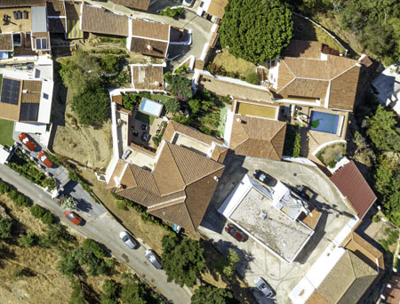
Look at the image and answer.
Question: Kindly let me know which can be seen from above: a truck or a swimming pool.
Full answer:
Visible in the photo is a swimming pool.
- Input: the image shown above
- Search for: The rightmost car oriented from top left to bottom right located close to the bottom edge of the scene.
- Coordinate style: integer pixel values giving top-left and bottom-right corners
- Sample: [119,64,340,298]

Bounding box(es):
[256,277,272,296]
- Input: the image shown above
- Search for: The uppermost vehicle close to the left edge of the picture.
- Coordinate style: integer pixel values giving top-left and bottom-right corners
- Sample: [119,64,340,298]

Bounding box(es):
[19,134,37,150]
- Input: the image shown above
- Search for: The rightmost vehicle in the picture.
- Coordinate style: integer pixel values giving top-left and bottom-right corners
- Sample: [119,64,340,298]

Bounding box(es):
[295,184,314,202]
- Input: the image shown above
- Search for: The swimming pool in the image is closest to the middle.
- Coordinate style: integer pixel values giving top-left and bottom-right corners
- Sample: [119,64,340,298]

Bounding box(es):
[138,98,165,120]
